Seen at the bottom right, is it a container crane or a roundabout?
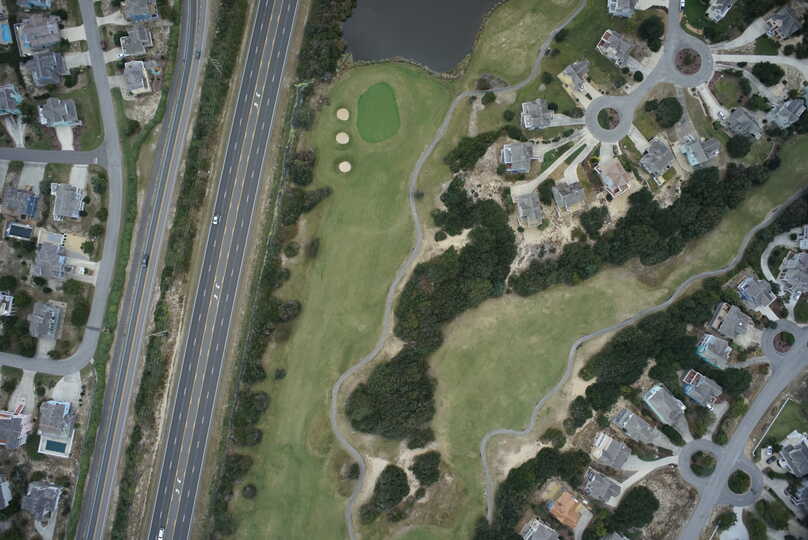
roundabout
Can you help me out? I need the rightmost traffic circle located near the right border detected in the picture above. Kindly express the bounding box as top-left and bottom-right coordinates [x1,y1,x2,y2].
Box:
[761,319,806,363]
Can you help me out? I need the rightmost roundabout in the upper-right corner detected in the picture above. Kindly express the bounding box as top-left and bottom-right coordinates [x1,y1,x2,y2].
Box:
[664,36,713,85]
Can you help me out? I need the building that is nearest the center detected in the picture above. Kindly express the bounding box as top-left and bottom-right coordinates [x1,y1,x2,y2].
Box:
[517,192,544,231]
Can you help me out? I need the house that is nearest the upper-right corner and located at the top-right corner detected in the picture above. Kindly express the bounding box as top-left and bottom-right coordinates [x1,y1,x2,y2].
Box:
[765,3,808,42]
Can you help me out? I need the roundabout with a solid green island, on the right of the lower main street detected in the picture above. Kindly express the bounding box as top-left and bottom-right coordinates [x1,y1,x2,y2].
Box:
[715,458,763,506]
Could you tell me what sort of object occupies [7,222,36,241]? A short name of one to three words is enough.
swimming pool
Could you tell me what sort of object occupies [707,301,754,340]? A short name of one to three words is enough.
house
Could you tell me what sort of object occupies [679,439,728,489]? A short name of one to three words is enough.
roundabout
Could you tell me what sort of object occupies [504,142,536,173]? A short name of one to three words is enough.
house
